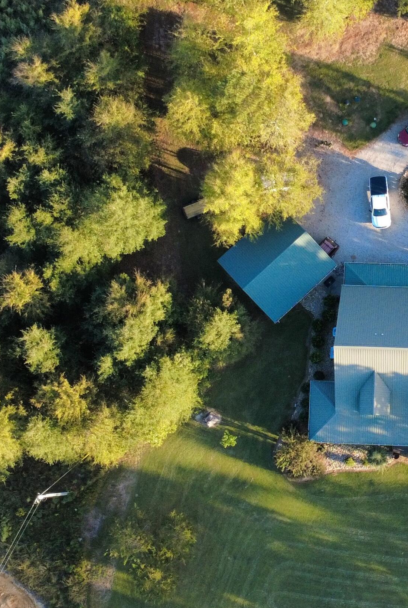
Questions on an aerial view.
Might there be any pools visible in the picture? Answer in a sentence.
No, there isn't any pool down there.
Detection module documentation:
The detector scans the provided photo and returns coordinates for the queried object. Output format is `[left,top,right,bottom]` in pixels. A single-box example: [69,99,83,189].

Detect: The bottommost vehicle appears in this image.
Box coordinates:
[320,239,338,258]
